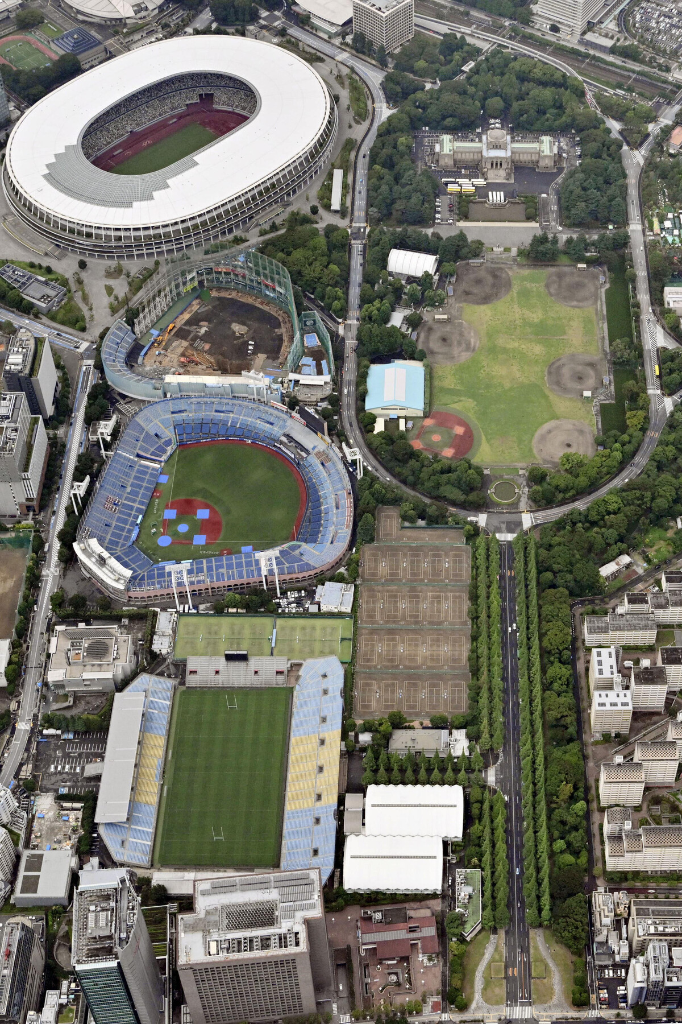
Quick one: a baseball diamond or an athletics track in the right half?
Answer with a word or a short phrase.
baseball diamond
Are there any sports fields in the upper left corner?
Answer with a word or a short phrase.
Yes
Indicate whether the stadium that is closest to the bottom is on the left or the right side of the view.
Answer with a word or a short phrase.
left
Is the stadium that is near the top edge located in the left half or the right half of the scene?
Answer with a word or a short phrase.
left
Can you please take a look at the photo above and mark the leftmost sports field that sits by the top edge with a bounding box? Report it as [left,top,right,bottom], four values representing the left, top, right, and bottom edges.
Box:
[0,41,60,80]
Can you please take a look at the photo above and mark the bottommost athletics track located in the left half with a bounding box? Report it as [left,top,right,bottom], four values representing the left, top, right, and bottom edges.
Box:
[94,107,251,172]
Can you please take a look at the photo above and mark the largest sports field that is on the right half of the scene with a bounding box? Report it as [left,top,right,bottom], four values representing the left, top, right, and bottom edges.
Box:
[422,266,605,465]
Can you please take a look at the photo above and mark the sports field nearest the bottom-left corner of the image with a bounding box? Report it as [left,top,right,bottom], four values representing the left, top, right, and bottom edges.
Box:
[159,689,291,864]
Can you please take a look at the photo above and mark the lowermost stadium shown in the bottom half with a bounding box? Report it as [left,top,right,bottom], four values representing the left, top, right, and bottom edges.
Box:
[83,655,345,893]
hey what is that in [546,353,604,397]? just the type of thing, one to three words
baseball field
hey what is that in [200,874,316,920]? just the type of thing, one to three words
solar array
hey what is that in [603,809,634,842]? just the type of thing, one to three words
building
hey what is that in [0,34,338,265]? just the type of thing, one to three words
stadium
